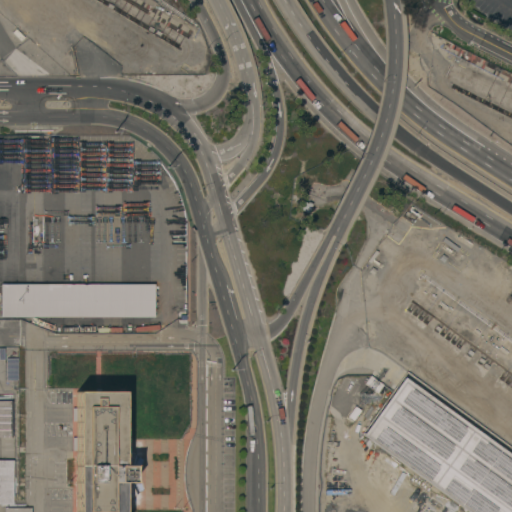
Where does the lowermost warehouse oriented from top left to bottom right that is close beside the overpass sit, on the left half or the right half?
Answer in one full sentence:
The lowermost warehouse oriented from top left to bottom right that is close beside the overpass sits on the right side.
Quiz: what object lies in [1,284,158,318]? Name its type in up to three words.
building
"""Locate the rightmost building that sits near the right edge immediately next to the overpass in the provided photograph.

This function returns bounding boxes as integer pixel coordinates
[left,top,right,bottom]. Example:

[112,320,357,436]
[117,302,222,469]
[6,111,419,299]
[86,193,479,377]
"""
[364,377,512,512]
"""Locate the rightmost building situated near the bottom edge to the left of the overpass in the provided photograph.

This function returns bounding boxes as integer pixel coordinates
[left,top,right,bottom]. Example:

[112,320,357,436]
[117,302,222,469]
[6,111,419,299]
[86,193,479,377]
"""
[77,391,142,512]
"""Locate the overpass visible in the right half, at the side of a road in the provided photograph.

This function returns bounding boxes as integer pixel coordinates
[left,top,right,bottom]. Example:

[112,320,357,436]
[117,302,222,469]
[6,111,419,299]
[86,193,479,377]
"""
[265,0,409,450]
